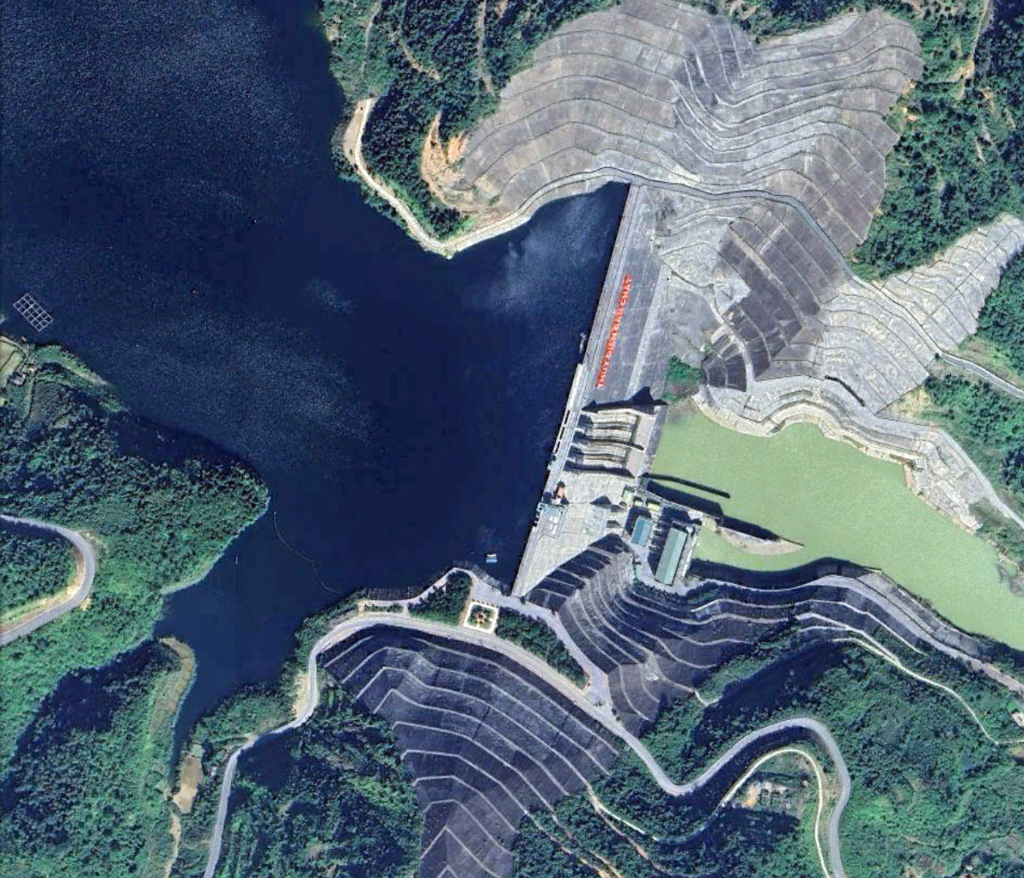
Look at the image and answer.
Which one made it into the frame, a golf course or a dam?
dam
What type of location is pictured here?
port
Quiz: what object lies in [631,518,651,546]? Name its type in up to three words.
building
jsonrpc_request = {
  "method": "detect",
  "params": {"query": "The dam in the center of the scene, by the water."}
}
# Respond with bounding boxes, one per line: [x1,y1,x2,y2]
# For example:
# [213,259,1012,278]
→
[512,181,670,598]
